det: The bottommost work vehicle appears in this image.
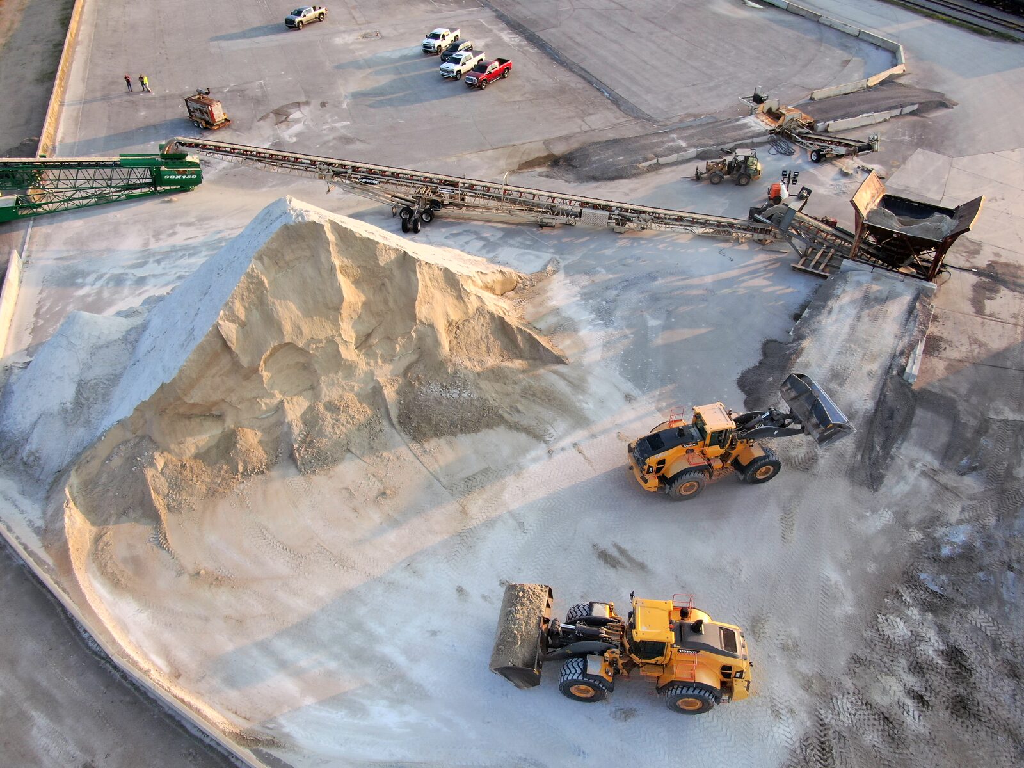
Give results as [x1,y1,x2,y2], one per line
[484,587,754,723]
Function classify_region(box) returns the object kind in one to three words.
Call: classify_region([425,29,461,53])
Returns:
truck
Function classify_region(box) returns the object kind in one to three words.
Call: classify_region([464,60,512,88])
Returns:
truck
